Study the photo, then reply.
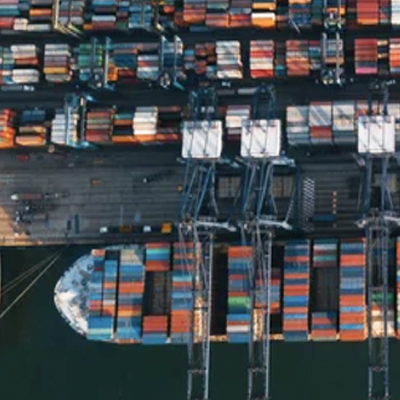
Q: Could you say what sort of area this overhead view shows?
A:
port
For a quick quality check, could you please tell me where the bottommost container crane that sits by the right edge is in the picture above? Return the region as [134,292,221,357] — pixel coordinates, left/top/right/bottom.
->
[352,80,400,400]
